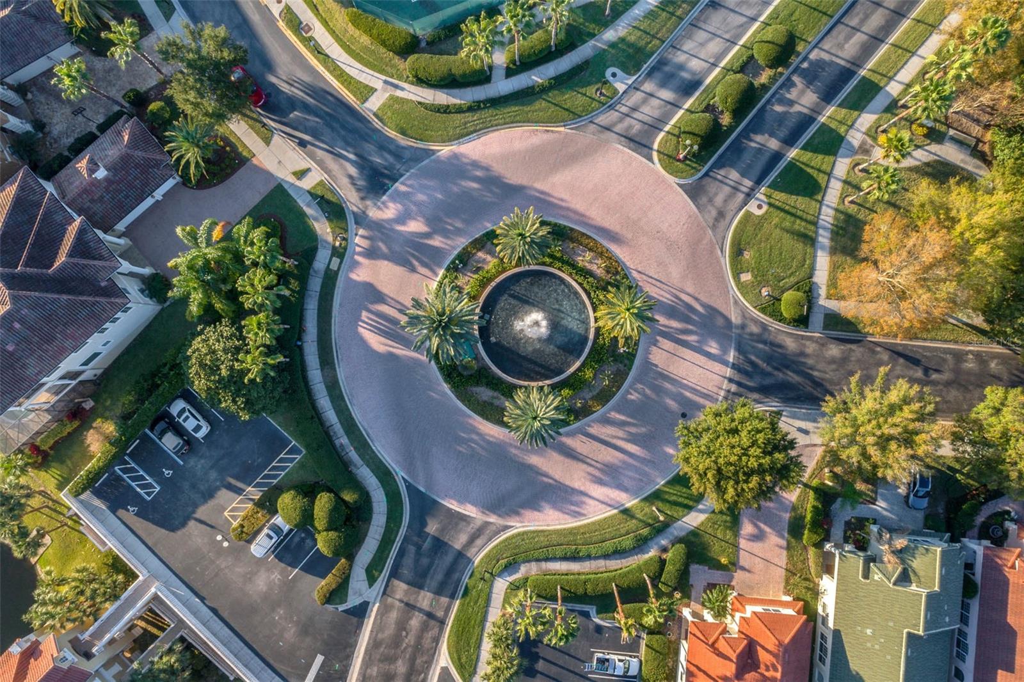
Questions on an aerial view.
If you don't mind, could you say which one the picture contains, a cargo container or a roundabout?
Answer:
roundabout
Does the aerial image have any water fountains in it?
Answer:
Yes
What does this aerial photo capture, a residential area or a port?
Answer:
residential area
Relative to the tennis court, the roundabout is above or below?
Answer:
below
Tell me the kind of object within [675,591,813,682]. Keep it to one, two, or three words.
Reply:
house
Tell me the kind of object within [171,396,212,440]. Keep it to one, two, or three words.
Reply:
car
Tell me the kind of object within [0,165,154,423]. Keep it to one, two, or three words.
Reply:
house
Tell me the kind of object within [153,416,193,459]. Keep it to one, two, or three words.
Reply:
car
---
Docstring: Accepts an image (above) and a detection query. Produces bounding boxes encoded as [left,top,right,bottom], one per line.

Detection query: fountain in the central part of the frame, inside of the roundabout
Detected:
[479,266,596,383]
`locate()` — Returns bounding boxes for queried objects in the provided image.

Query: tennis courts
[366,0,512,34]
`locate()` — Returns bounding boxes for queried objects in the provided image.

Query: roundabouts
[339,129,737,528]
